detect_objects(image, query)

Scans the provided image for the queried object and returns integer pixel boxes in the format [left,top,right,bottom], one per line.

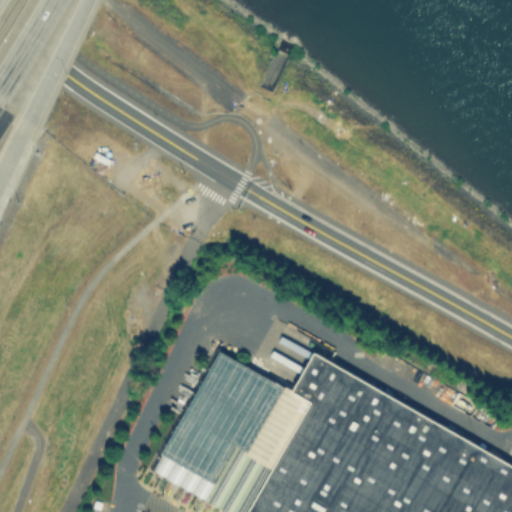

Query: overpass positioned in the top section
[0,0,102,230]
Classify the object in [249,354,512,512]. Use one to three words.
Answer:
warehouse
